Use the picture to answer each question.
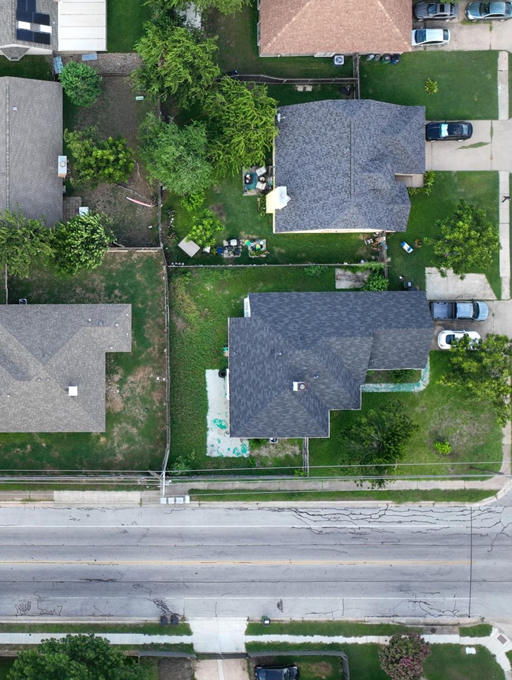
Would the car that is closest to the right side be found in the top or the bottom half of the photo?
top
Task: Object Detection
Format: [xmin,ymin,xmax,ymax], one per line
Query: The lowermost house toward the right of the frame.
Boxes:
[225,291,434,438]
